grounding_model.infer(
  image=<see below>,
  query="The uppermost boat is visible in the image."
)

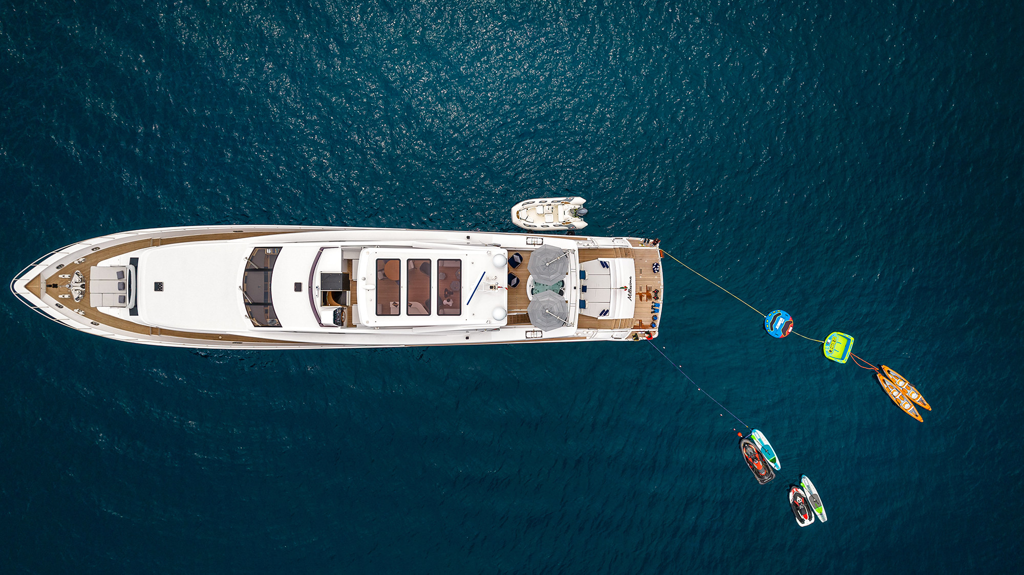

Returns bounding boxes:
[511,196,588,231]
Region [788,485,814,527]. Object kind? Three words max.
boat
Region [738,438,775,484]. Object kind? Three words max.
boat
